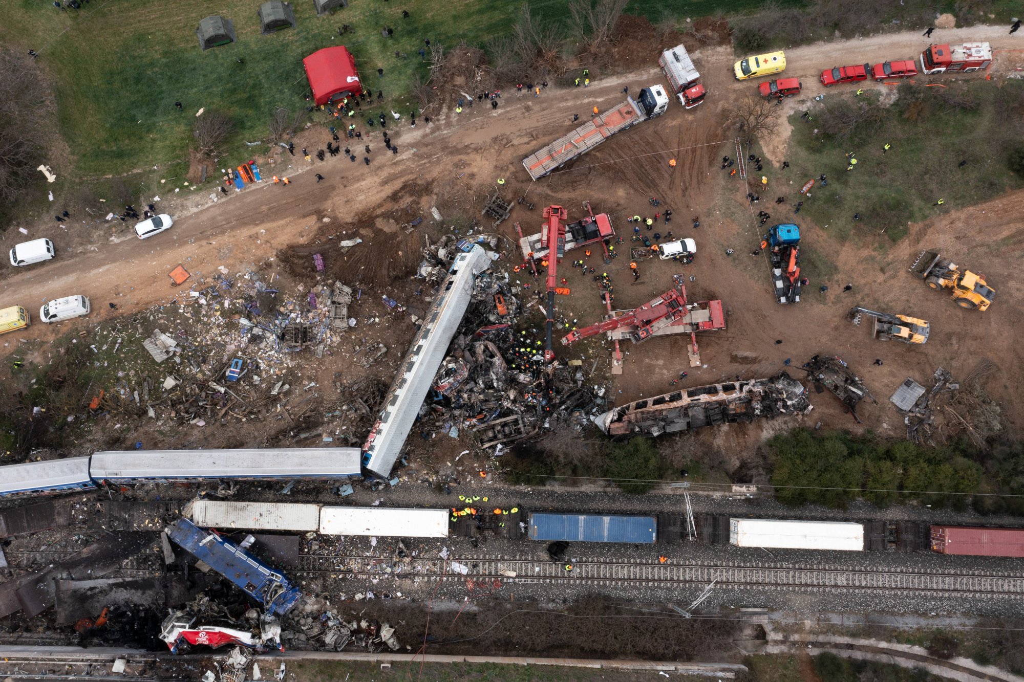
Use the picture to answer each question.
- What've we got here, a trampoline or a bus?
bus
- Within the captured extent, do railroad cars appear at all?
Yes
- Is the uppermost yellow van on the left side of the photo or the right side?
right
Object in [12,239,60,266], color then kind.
white vehicle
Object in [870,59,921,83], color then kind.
red vehicle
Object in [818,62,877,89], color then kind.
red vehicle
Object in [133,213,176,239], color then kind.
white car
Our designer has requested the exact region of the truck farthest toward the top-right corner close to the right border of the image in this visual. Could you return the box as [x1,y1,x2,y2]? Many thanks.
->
[917,42,998,82]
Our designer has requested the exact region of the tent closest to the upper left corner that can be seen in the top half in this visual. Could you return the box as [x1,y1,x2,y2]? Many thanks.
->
[197,8,238,52]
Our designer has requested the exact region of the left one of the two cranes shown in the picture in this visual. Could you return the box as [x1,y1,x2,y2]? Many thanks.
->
[511,188,616,387]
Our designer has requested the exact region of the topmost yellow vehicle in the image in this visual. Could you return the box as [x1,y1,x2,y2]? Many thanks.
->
[730,49,789,84]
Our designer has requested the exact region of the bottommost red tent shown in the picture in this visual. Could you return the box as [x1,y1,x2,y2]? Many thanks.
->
[294,37,386,114]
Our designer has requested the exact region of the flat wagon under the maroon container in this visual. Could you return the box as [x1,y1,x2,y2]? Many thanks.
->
[891,524,1024,559]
